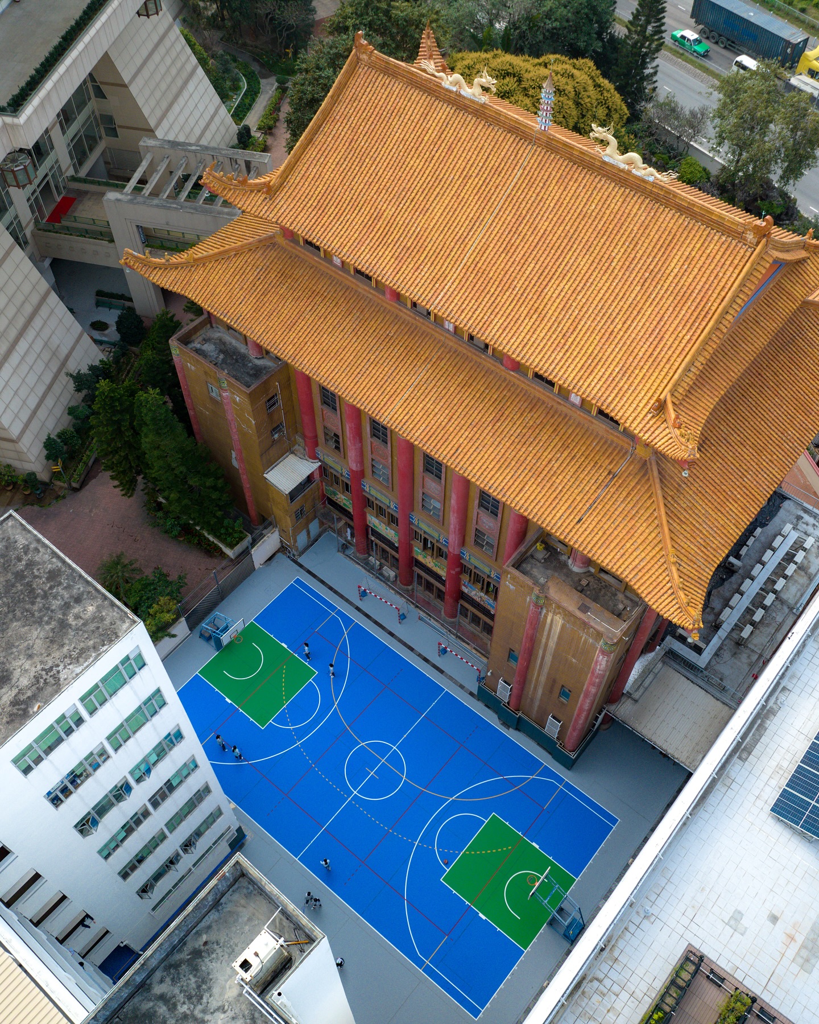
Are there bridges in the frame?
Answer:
Yes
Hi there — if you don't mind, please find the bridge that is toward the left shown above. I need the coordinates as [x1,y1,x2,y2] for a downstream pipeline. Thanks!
[22,169,249,285]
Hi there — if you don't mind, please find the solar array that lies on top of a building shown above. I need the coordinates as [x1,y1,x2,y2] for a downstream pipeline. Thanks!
[770,734,819,846]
